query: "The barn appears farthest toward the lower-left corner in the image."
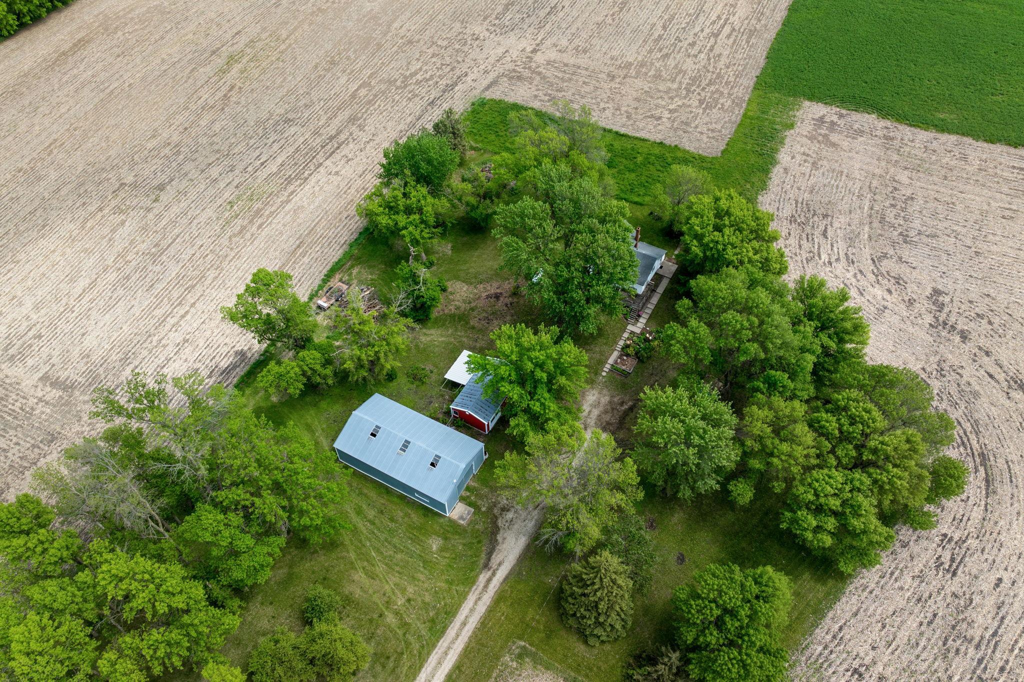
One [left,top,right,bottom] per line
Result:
[332,393,485,516]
